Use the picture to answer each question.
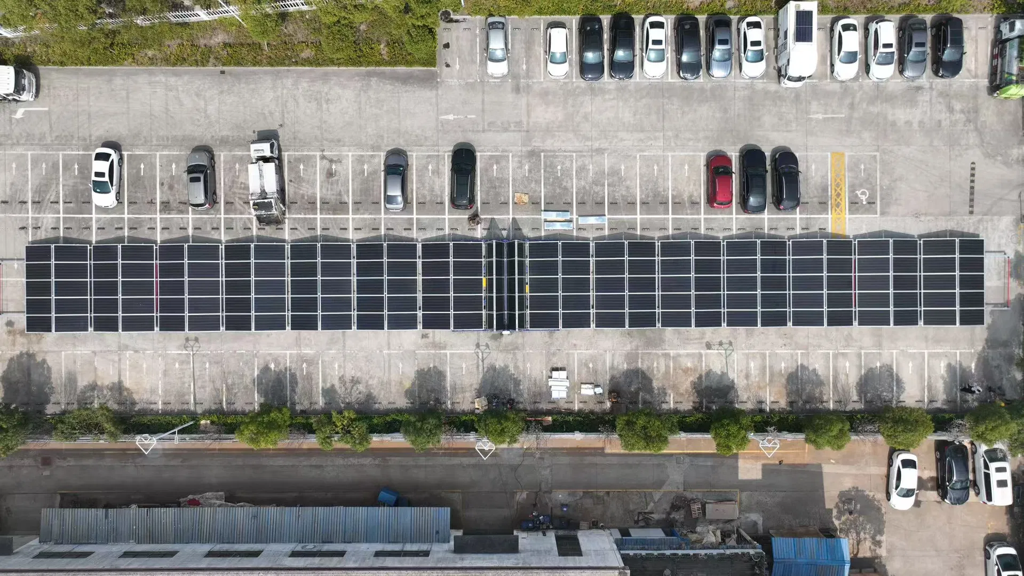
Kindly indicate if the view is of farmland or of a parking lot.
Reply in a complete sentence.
What you see here is a parking lot.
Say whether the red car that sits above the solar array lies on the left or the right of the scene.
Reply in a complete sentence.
The red car that sits above the solar array appears in the right half of the scene.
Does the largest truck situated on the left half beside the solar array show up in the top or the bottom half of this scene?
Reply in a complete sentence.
The top half of the photo is where the largest truck situated on the left half beside the solar array is.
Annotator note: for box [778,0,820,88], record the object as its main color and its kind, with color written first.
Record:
white vehicle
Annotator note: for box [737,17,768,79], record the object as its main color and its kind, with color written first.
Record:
white car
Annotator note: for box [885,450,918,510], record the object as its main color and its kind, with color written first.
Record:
white car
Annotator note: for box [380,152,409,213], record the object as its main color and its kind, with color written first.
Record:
gray car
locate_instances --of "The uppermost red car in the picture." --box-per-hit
[706,155,736,210]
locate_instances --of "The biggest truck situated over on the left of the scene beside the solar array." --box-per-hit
[247,134,285,225]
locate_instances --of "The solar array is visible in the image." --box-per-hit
[0,239,1011,336]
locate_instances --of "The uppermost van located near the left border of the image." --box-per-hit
[0,65,43,100]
